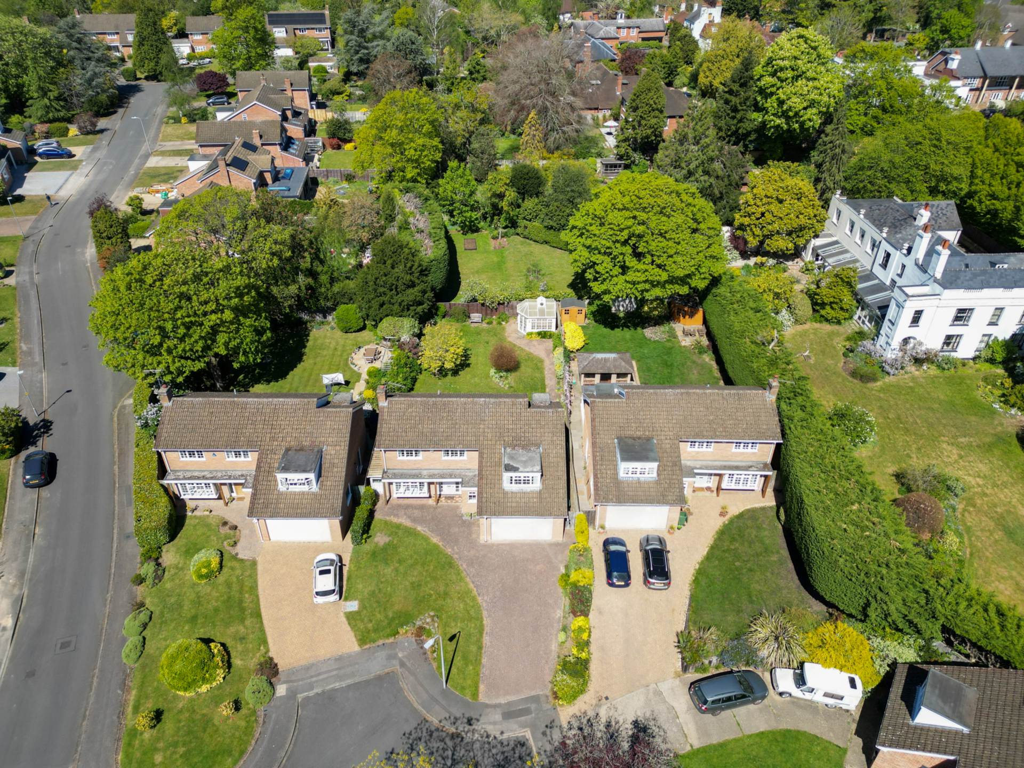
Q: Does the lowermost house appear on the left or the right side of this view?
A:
right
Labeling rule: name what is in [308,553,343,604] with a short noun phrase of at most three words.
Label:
car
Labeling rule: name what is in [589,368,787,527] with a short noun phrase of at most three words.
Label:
house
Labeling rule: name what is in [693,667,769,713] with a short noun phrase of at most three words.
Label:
car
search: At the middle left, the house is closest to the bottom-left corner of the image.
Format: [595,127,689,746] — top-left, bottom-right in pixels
[151,376,362,539]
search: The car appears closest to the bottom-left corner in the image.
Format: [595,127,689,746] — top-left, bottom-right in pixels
[17,448,51,489]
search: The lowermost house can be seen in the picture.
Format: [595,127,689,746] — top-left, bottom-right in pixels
[872,663,1024,768]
